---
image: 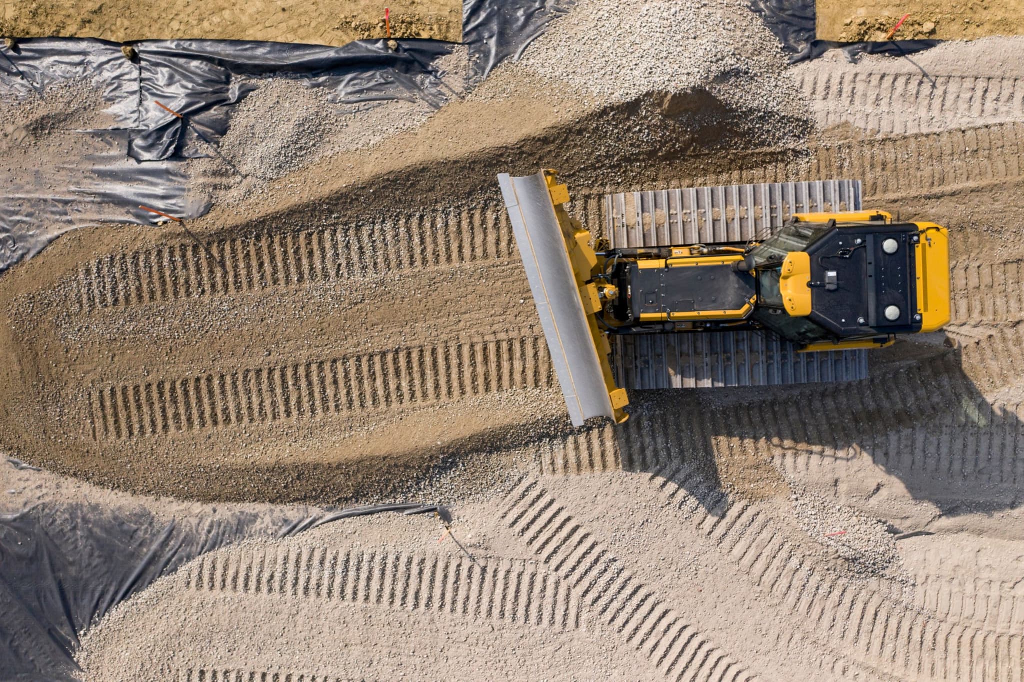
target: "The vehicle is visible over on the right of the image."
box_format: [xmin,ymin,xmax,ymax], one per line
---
[498,168,949,427]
